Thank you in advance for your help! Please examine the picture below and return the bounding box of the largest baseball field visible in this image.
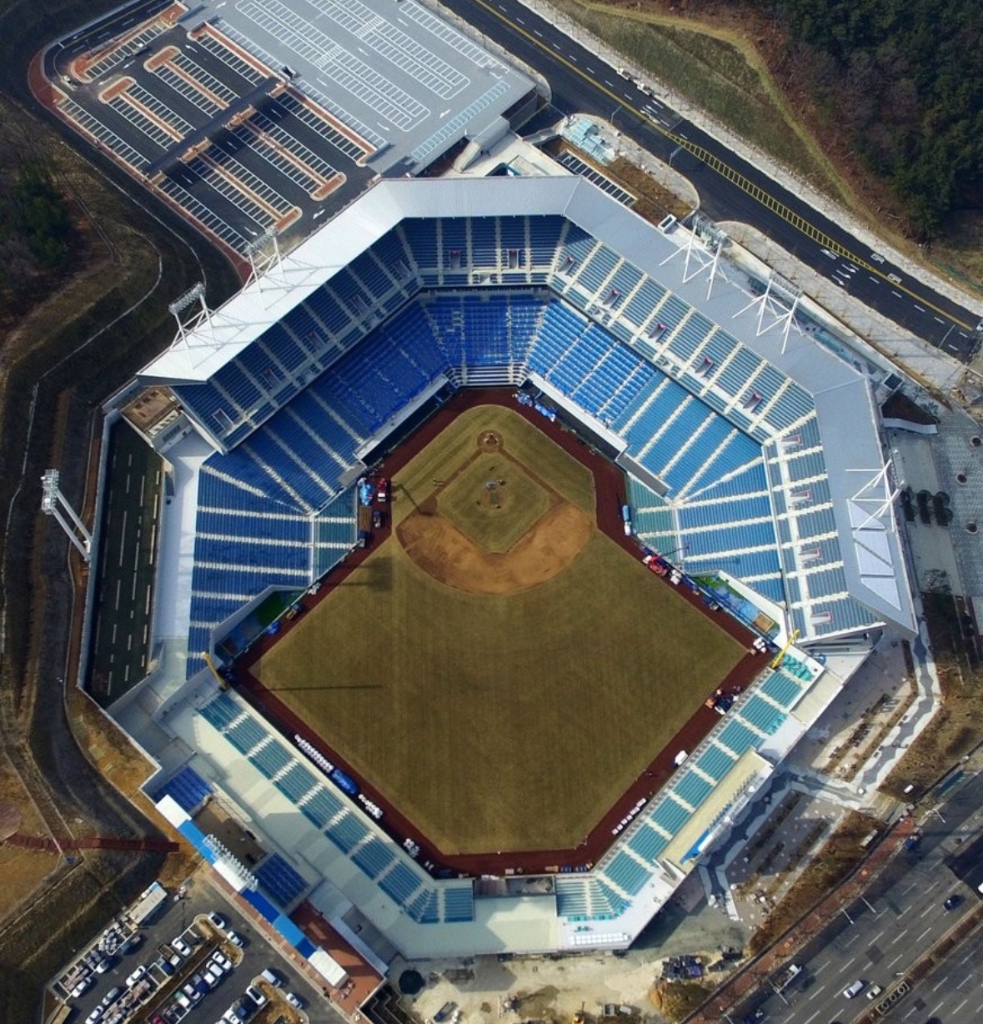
[227,386,770,880]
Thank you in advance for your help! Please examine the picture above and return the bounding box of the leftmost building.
[122,385,191,454]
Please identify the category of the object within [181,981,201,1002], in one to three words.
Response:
car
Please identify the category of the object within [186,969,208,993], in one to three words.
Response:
truck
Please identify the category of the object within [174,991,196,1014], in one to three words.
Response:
truck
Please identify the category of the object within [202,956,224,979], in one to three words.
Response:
vehicle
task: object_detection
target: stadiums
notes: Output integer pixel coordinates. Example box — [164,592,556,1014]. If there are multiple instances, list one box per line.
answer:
[78,174,926,1020]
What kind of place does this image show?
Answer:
sports ground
